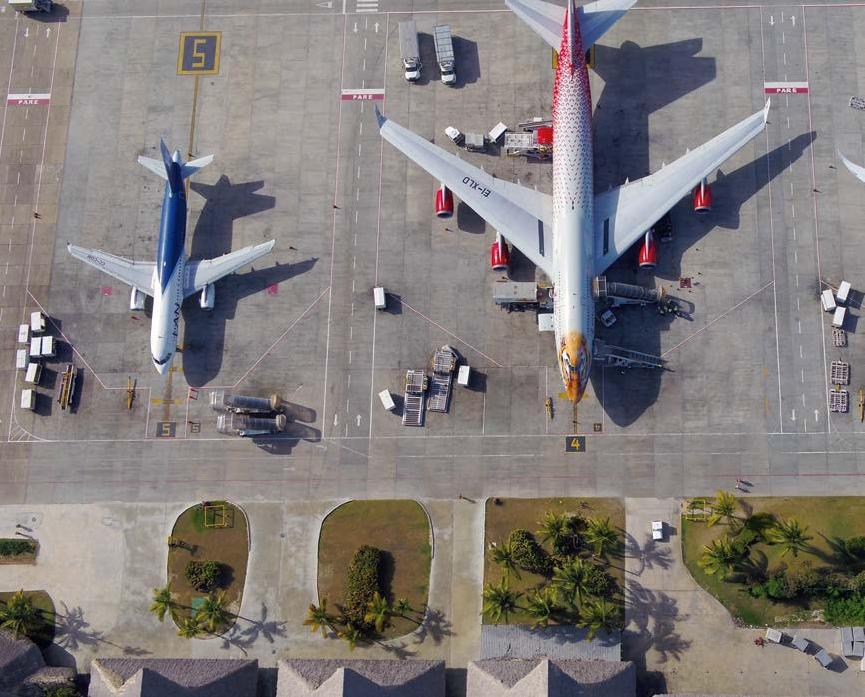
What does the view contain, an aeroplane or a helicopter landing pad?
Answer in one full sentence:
Looking from above, you can make out an aeroplane.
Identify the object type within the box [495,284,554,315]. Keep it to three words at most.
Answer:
truck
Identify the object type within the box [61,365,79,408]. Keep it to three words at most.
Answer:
work vehicle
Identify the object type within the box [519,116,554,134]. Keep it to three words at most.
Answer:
work vehicle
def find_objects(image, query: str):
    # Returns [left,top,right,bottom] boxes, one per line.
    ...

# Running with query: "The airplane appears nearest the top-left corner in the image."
[66,137,274,373]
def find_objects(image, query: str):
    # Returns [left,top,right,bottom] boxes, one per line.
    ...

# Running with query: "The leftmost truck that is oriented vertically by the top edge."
[397,28,419,85]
